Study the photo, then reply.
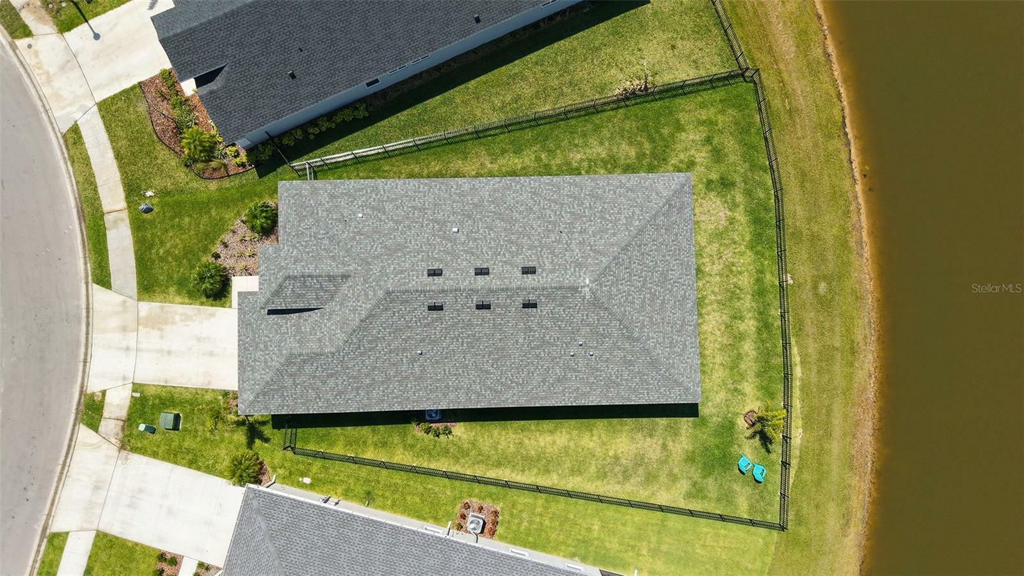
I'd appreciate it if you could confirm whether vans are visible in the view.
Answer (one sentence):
No, the scene contains no van.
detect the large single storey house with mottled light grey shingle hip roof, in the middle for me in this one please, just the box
[236,171,702,418]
